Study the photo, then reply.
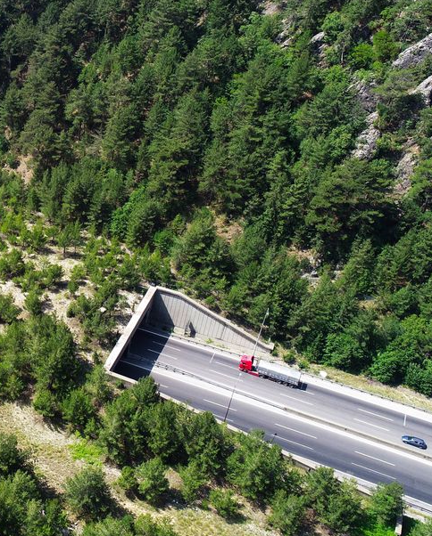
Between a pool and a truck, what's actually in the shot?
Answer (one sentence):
Looking from above, you can make out a truck.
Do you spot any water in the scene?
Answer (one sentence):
No, there is no water in the image.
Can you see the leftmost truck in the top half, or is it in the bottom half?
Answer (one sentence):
The bottom half of the photo is where the leftmost truck is.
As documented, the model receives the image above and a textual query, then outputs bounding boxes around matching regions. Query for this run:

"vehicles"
[243,354,306,388]
[404,436,429,450]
